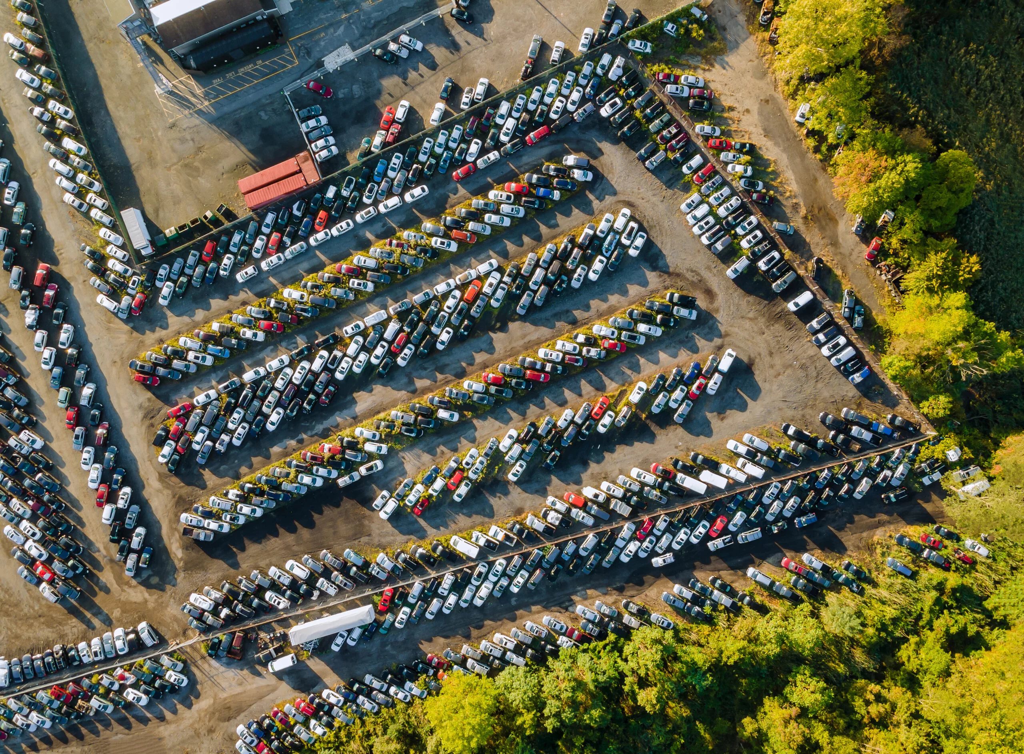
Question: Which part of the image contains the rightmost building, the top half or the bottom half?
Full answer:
It is in the top half that the rightmost building appears.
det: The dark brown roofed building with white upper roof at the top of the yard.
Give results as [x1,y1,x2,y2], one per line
[146,0,287,80]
